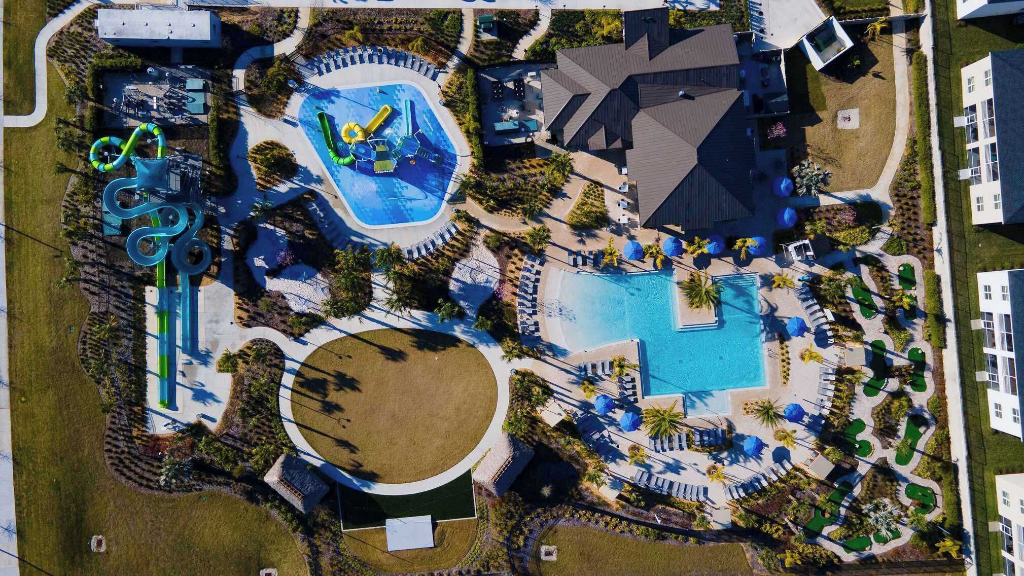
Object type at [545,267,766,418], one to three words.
swimming pool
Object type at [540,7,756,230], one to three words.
building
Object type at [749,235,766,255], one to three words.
umbrella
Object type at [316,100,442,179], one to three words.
playground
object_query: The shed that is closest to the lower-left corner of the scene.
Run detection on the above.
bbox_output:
[264,454,329,513]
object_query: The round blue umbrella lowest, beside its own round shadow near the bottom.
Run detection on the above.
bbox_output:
[742,436,763,457]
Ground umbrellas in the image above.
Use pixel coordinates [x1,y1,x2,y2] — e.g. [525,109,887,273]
[775,208,795,227]
[783,401,803,421]
[620,410,640,431]
[742,436,763,457]
[749,235,766,255]
[621,240,643,261]
[594,395,614,414]
[785,316,805,337]
[663,237,683,257]
[773,176,793,197]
